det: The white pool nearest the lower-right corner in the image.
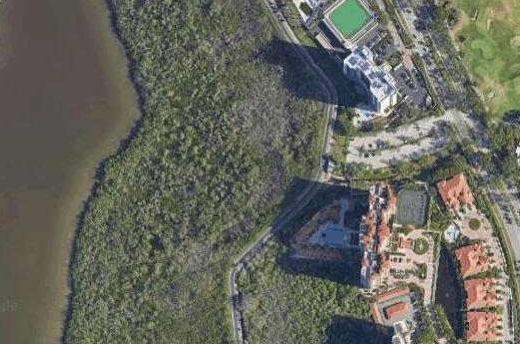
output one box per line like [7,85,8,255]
[444,223,459,242]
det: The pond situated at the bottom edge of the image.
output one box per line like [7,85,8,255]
[435,245,466,339]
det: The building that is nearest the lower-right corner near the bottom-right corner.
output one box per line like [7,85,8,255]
[466,311,501,341]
